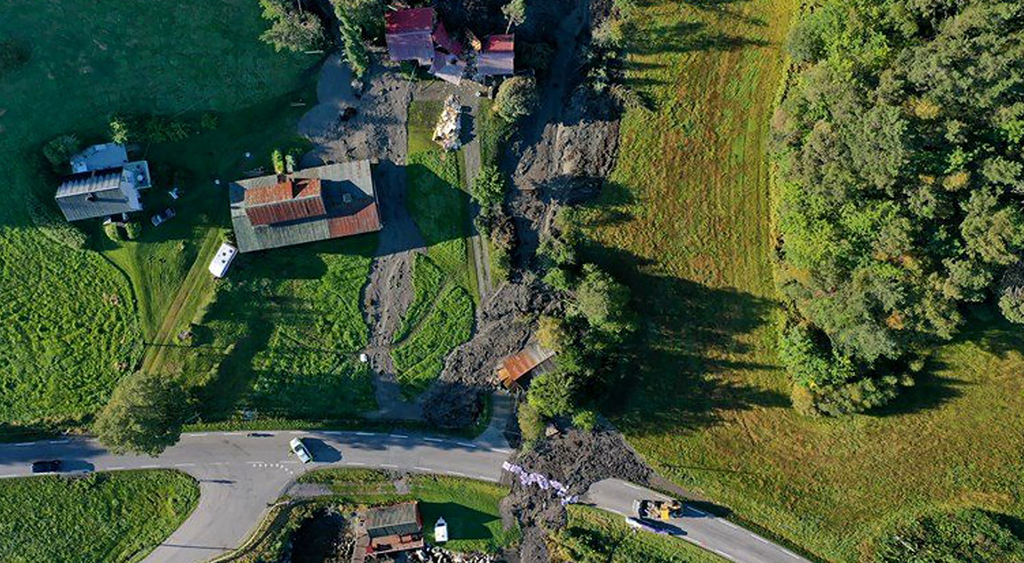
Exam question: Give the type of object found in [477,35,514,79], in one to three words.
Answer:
barn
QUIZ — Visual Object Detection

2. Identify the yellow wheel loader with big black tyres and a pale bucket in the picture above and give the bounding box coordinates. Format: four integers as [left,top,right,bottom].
[631,497,681,521]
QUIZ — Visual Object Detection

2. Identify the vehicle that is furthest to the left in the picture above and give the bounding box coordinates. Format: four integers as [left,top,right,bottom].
[33,458,64,473]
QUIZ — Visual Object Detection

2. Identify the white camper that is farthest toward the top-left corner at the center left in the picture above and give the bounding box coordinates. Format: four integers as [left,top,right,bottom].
[210,240,241,277]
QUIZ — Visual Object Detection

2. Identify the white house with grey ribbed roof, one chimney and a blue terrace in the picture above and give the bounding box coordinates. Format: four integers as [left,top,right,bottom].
[53,142,155,222]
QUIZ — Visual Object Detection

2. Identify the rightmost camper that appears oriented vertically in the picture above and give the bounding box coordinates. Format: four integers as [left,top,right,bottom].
[434,509,448,541]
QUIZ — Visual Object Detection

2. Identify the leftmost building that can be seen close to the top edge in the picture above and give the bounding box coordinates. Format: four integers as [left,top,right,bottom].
[386,10,437,71]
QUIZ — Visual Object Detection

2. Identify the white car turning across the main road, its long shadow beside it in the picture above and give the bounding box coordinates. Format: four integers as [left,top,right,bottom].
[289,436,314,464]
